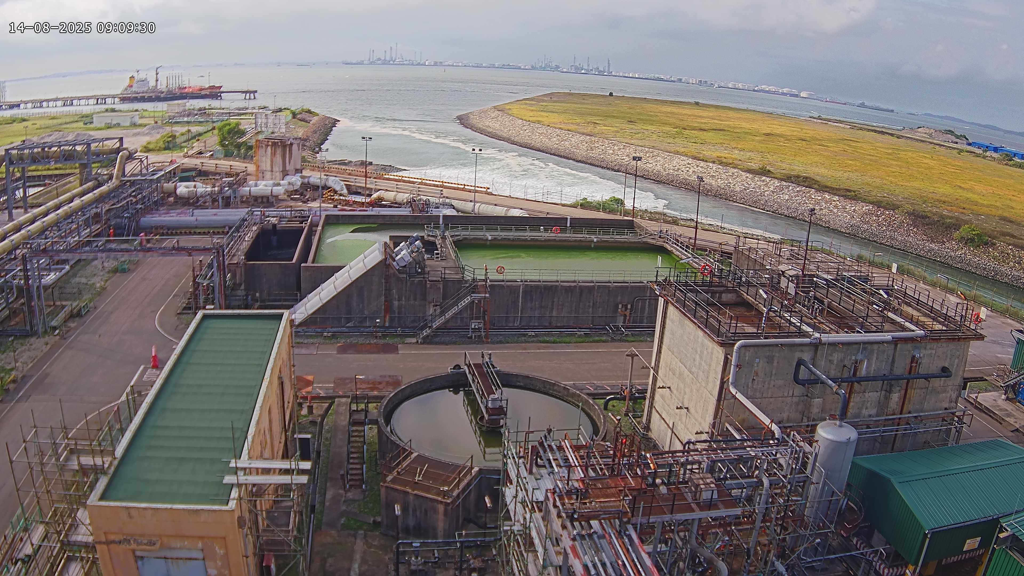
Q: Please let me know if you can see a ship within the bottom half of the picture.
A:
No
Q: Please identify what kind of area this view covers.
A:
industrial area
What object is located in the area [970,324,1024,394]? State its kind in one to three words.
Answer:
building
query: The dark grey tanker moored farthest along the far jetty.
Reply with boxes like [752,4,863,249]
[853,97,894,114]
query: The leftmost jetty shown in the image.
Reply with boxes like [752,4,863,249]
[0,85,258,108]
